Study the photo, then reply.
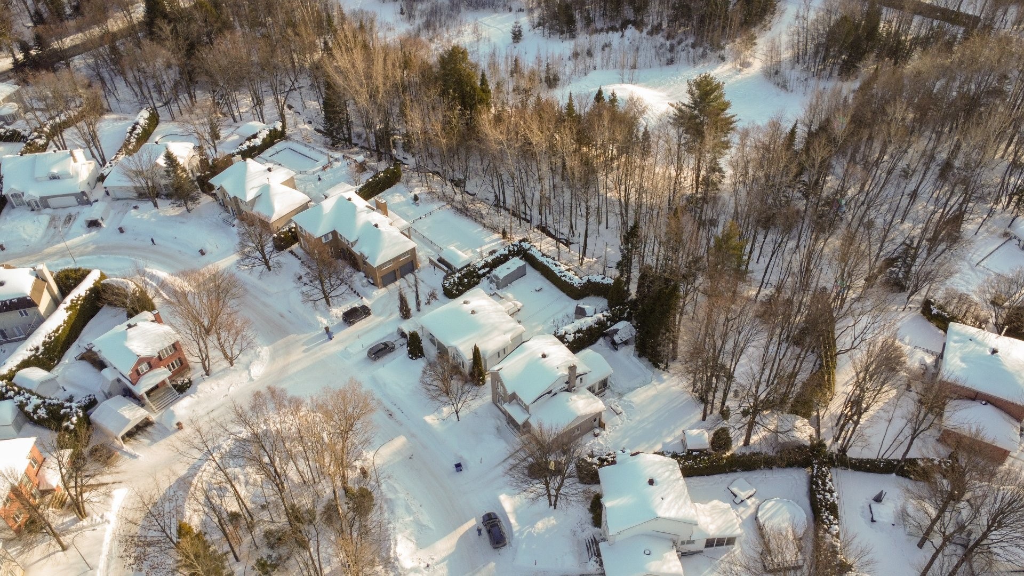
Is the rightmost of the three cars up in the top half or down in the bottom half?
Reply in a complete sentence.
The rightmost of the three cars is in the bottom half of the image.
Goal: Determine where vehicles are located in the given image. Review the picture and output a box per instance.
[475,510,504,552]
[363,340,396,360]
[339,305,371,323]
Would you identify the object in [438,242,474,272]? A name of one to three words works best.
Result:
shed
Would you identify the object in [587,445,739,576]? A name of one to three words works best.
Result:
house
